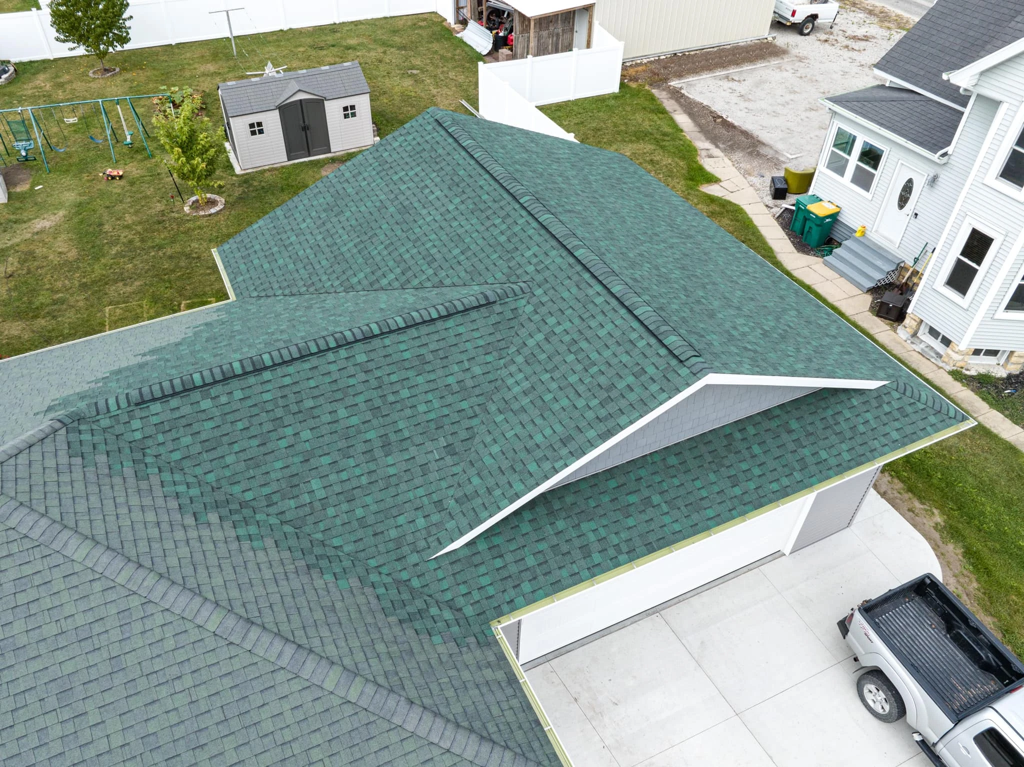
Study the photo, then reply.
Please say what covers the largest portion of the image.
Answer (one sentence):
For the most part, this view shows buildings.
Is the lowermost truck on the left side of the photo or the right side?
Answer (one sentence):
The lowermost truck is on the right side of the image.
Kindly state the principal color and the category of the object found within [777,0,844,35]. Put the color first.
white trailer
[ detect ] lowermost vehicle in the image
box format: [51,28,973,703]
[834,570,1024,767]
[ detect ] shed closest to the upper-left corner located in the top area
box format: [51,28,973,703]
[212,59,374,169]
